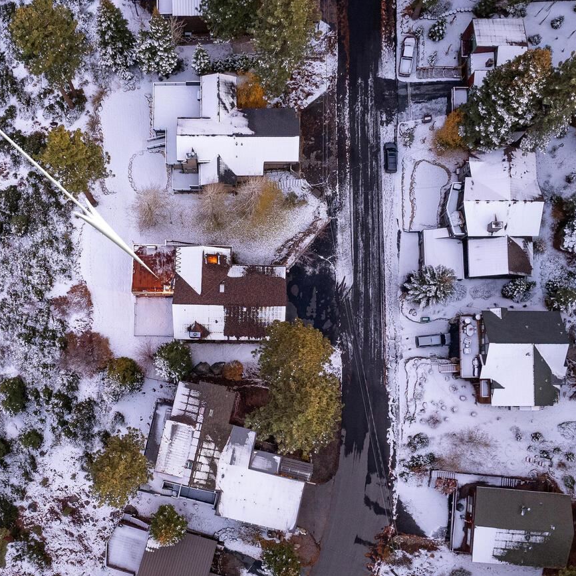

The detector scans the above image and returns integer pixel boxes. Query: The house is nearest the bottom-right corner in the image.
[430,471,574,569]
